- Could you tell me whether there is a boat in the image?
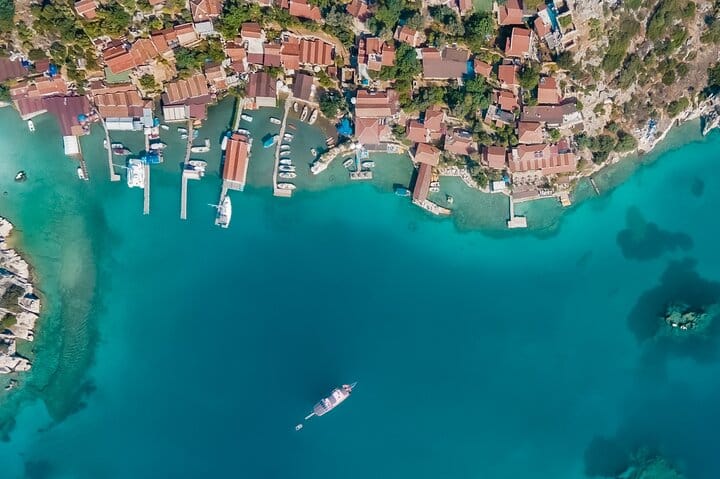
Yes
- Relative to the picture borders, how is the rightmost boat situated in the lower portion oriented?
diagonally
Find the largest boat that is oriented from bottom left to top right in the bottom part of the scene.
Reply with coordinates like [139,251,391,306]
[307,385,357,421]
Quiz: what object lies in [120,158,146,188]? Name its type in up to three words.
boat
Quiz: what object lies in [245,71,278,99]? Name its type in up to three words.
building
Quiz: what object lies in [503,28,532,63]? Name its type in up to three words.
house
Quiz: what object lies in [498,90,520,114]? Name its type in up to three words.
house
